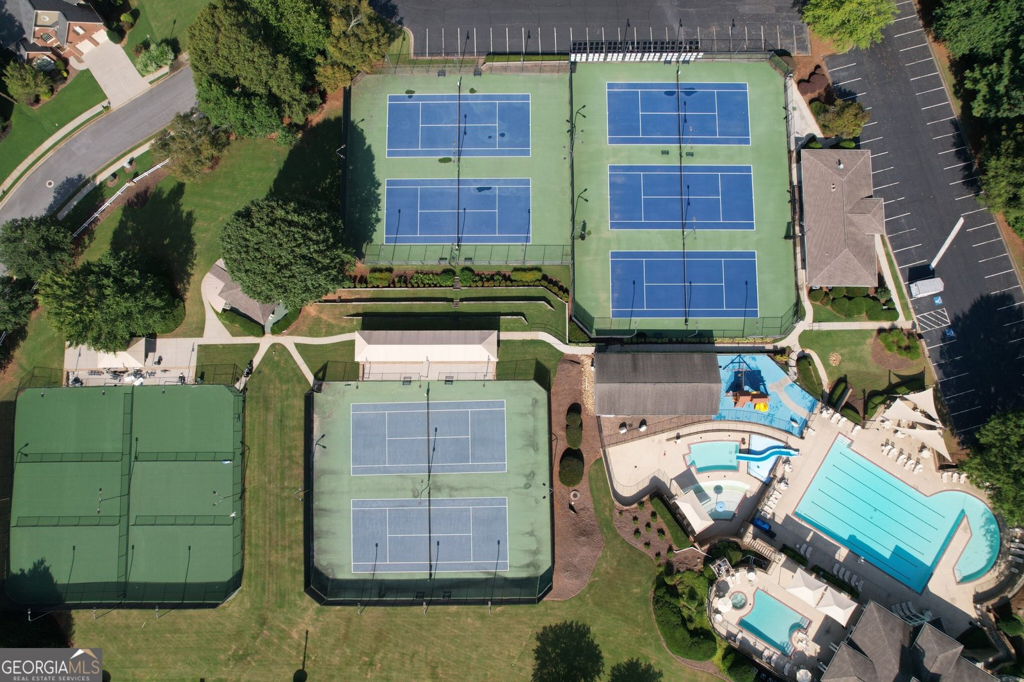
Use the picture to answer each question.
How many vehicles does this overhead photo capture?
1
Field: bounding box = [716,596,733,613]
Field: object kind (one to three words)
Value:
umbrella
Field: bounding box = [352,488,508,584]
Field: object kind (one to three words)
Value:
tennis court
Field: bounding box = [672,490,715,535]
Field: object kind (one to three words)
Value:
building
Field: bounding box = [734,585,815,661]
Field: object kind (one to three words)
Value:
swimming pool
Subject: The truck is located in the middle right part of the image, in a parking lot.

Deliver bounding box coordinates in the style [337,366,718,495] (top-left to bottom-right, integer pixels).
[907,278,947,301]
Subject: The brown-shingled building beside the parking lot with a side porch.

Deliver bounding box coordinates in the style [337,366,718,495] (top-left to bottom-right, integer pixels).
[799,149,885,288]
